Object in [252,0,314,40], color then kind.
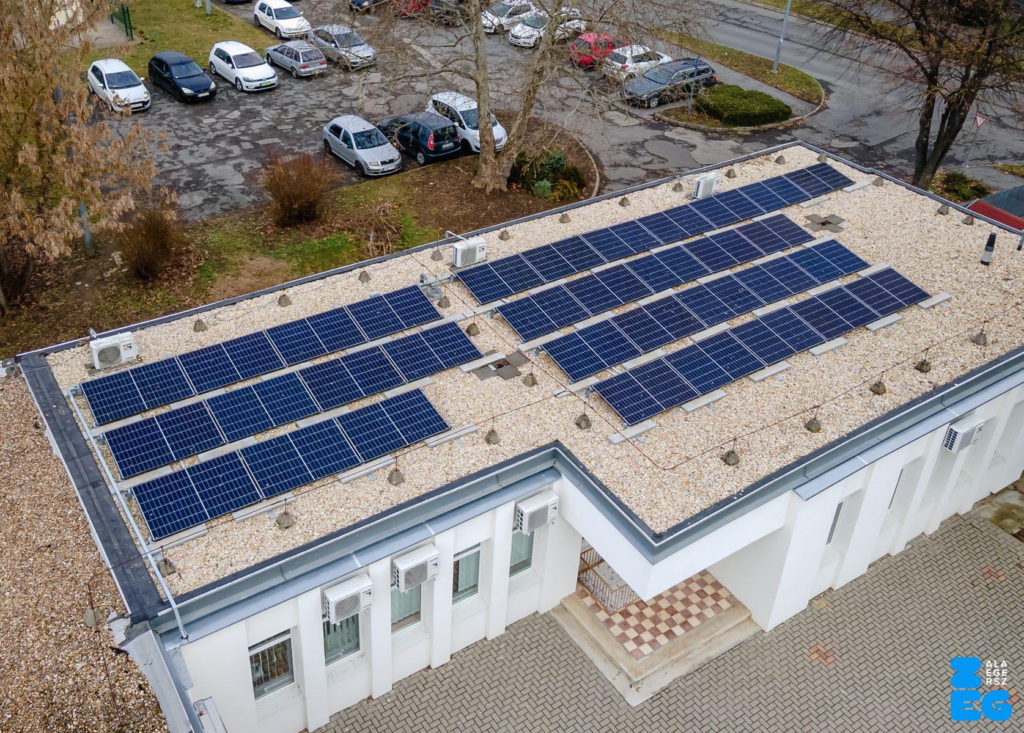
white car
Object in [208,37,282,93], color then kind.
white car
